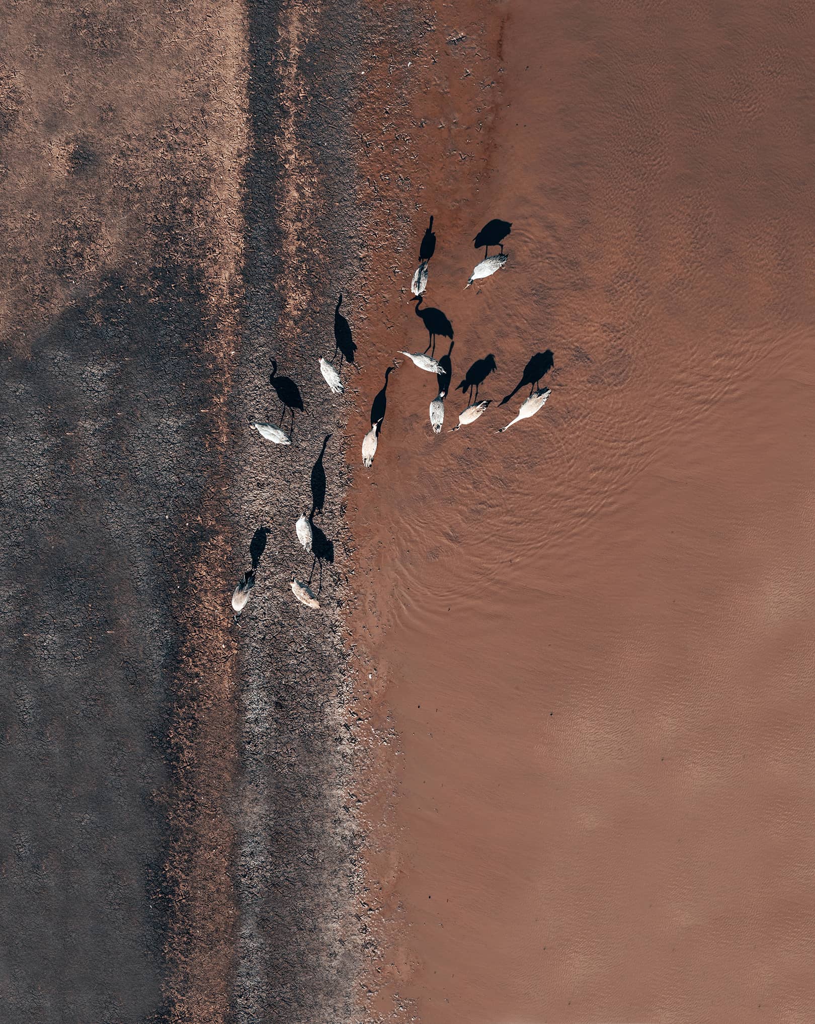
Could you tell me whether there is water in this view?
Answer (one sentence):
Yes, water shows up in the scene.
